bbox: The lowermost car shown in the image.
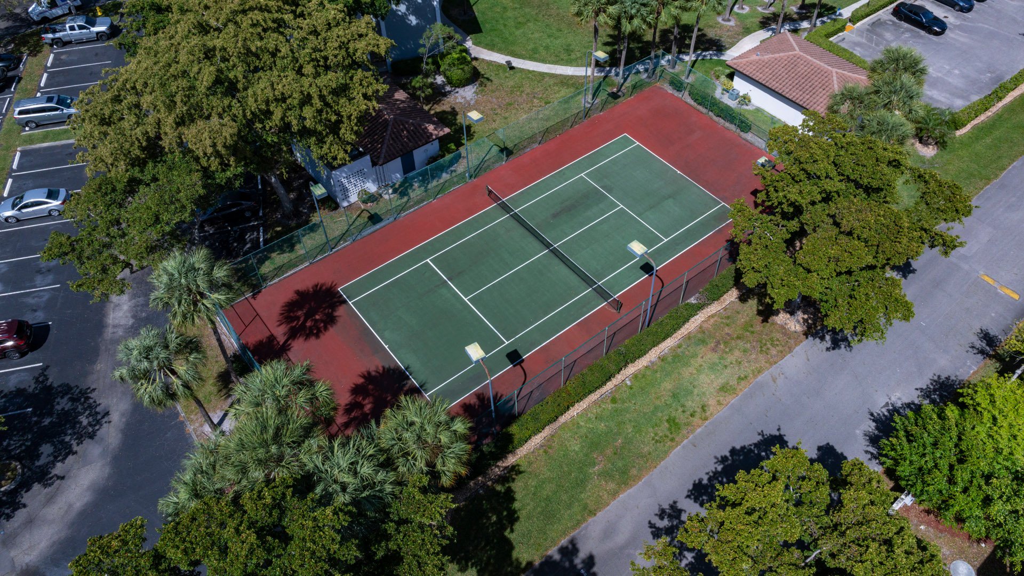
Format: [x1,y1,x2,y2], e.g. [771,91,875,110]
[0,319,32,362]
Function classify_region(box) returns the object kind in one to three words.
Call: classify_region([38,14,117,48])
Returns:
truck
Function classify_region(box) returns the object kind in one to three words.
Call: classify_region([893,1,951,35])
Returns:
car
